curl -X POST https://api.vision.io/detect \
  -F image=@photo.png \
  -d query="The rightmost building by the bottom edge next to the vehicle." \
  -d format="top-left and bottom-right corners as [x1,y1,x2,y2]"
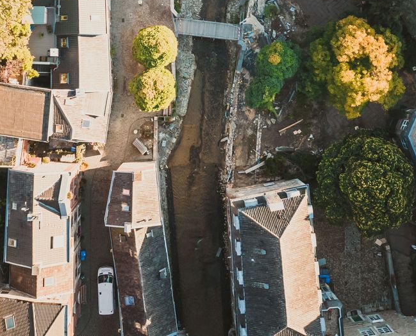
[109,225,179,336]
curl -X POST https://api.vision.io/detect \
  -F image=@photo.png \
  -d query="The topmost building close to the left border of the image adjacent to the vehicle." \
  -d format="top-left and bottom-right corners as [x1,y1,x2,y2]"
[4,162,79,269]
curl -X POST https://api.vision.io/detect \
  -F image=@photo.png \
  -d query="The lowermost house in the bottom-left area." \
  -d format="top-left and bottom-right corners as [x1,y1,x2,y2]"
[0,286,70,336]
